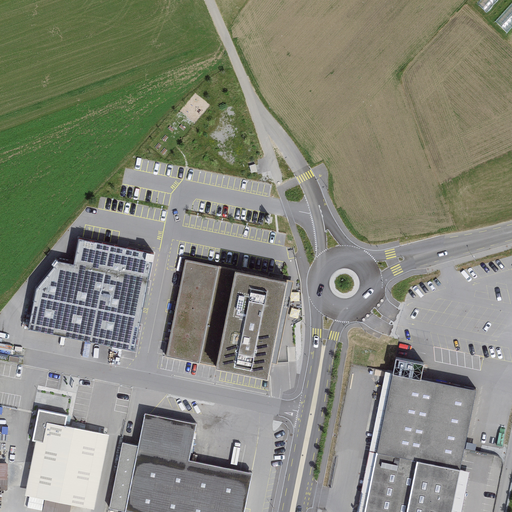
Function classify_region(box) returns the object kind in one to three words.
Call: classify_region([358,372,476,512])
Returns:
building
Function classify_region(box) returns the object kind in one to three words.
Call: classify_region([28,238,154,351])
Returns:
warehouse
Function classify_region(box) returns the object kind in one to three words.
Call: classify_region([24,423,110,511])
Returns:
building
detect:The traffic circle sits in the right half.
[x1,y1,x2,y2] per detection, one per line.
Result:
[306,246,382,322]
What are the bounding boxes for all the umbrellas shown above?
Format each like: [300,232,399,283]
[290,292,300,302]
[290,308,300,318]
